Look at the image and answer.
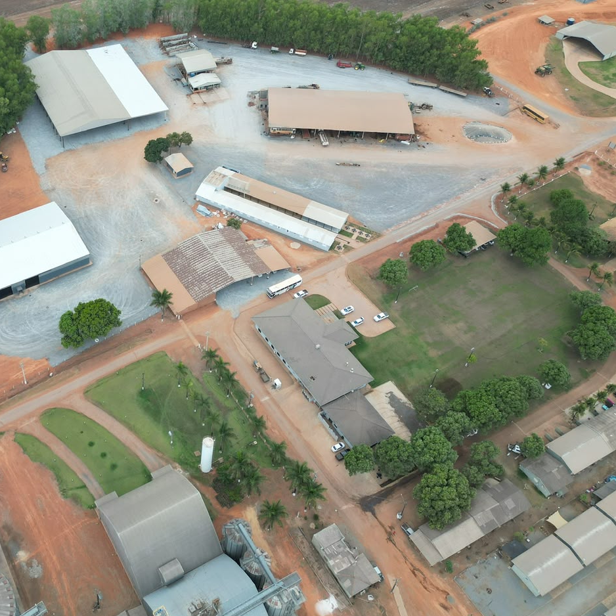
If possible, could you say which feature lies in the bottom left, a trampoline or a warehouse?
warehouse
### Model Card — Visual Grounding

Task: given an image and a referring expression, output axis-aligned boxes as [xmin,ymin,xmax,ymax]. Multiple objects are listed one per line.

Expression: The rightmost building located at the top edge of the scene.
[554,22,616,65]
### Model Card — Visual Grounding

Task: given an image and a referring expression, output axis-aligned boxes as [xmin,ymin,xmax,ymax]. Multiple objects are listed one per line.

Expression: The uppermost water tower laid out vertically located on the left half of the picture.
[199,434,218,476]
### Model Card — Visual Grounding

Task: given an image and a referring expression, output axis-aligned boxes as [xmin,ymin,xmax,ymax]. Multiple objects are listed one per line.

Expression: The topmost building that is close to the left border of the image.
[30,43,167,147]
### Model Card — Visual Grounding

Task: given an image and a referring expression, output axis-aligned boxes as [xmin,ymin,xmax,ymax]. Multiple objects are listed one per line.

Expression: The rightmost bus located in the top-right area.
[522,102,551,122]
